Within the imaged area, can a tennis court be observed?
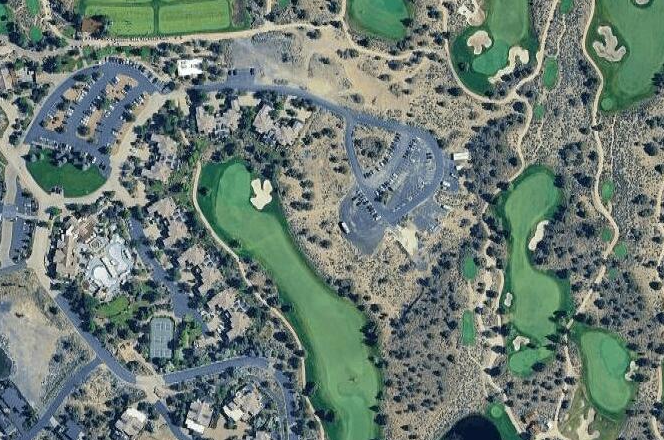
Yes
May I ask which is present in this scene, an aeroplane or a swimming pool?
swimming pool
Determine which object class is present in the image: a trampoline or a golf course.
golf course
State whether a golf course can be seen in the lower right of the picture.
Yes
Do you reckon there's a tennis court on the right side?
No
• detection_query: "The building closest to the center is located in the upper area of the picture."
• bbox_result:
[272,119,304,147]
